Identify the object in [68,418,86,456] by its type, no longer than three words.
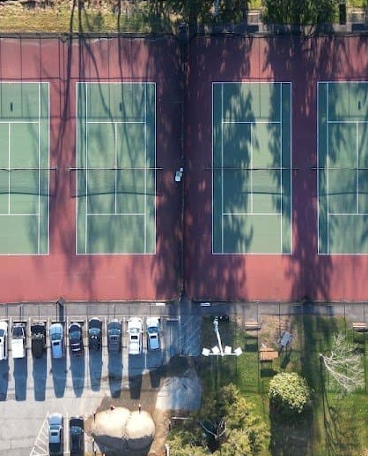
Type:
car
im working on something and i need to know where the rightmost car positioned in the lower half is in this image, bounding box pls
[145,315,161,349]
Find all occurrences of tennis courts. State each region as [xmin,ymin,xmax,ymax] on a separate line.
[317,82,368,256]
[212,82,293,256]
[75,82,156,256]
[0,82,49,256]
